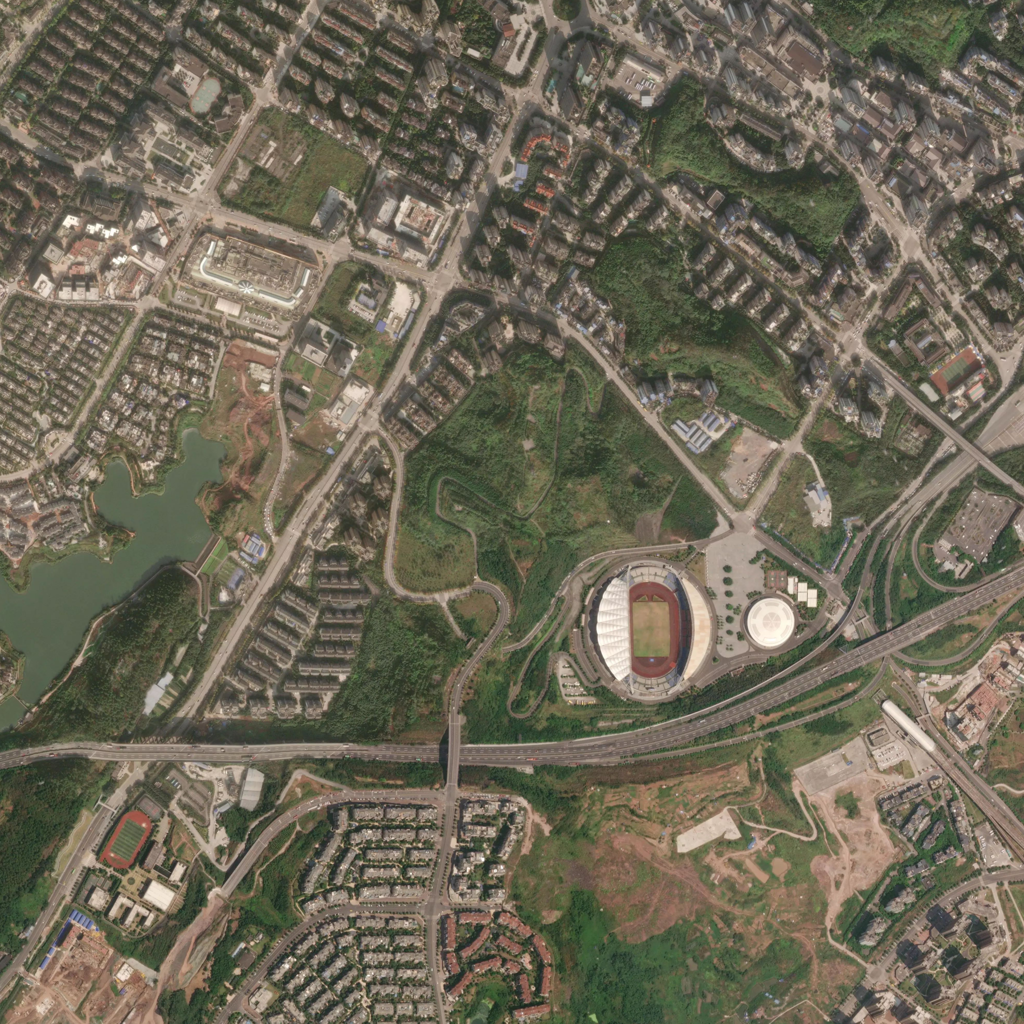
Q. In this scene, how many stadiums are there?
2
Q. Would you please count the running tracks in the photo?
two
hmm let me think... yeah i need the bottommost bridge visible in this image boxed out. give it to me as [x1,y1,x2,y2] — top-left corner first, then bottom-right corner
[220,827,276,897]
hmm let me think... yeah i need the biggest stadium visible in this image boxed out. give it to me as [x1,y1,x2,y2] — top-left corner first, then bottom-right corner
[583,556,717,704]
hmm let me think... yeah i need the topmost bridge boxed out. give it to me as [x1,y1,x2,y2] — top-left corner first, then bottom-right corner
[856,348,1024,502]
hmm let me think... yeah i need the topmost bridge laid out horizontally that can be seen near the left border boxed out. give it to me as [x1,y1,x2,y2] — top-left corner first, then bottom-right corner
[0,741,393,770]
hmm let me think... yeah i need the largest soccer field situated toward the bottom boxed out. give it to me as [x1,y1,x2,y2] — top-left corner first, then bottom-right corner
[633,602,670,657]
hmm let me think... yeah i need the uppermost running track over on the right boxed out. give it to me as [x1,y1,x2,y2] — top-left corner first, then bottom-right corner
[630,582,680,678]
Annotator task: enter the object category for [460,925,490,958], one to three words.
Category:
building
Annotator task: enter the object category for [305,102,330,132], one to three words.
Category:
building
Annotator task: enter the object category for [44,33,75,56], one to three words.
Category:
house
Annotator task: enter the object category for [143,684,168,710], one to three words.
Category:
shed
